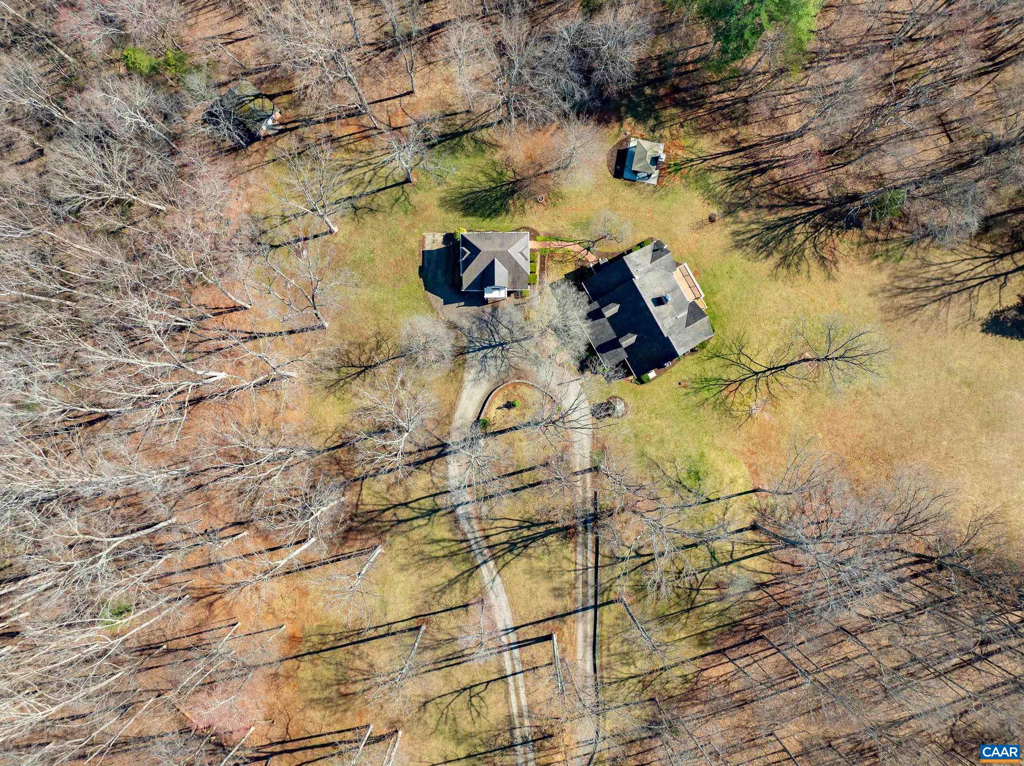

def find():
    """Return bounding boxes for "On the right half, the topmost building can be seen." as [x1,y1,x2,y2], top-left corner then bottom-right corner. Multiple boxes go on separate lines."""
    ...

[623,137,666,184]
